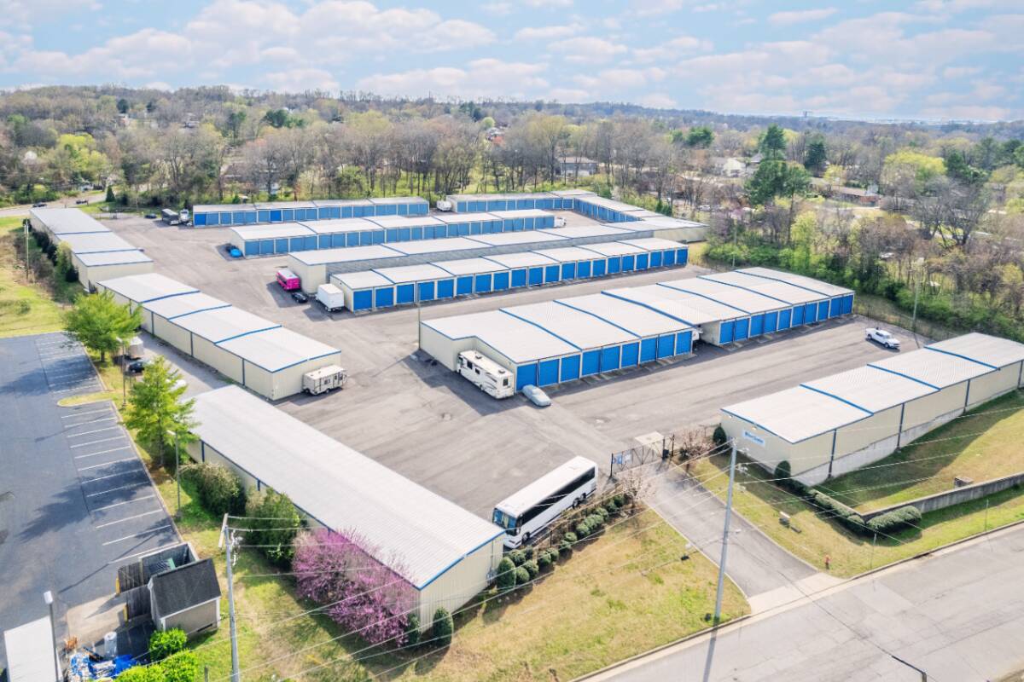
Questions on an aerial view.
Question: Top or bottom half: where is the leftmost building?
bottom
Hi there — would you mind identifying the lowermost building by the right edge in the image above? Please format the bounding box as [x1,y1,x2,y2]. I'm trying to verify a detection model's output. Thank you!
[720,334,1024,484]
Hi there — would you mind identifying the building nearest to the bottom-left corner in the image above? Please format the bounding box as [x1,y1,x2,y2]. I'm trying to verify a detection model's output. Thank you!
[1,616,61,682]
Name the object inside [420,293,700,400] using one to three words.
building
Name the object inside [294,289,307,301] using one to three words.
vehicle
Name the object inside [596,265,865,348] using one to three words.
building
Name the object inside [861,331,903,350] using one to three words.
vehicle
